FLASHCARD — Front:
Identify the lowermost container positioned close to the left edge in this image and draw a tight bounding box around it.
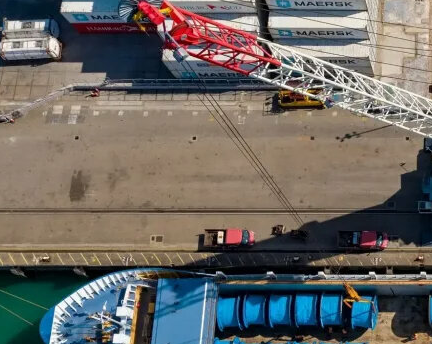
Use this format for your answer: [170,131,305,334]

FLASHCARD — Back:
[0,37,65,64]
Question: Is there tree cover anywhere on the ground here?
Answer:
No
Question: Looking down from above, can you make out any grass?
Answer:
No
